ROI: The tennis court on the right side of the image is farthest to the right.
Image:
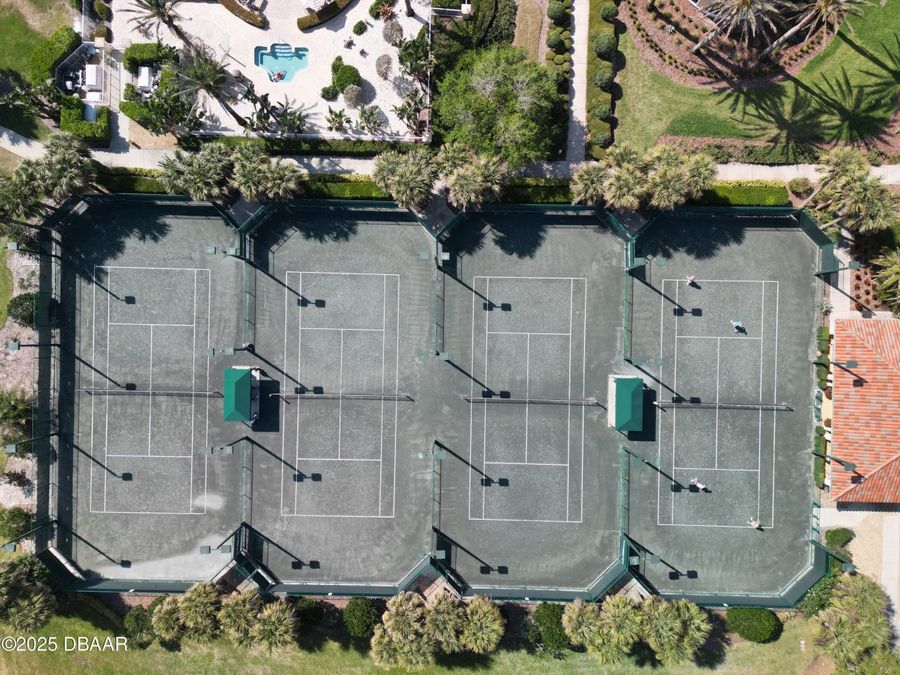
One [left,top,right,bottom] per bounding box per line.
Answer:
[621,212,824,599]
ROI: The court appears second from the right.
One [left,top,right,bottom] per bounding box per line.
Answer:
[433,208,627,592]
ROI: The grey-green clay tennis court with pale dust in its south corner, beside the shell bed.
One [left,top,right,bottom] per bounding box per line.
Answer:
[48,200,246,584]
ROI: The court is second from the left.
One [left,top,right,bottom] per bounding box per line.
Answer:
[243,204,436,588]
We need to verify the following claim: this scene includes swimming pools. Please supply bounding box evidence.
[251,37,311,84]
